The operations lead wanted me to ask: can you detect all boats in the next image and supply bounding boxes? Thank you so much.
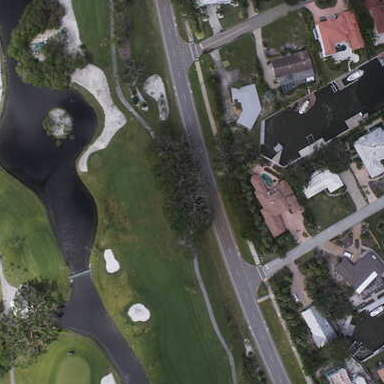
[370,308,383,316]
[299,102,308,114]
[346,71,363,83]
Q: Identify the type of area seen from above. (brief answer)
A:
golf course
